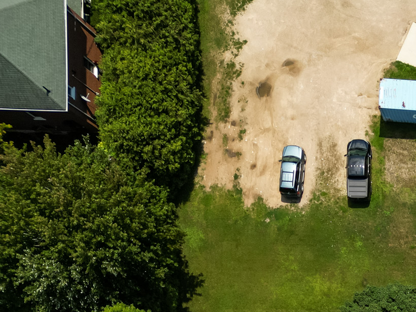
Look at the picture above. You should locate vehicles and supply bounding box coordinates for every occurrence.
[345,138,373,202]
[277,144,304,197]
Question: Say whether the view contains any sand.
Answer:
No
